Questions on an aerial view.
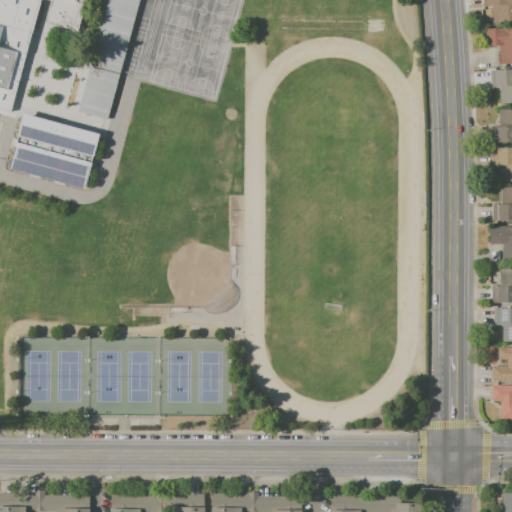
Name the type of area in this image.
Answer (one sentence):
The picture captures a sports ground.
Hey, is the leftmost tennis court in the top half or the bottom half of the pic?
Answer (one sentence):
You can find the leftmost tennis court in the bottom half.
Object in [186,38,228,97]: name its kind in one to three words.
basketball court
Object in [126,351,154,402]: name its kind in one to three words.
tennis court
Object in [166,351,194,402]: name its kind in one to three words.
tennis court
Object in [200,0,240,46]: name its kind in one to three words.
basketball court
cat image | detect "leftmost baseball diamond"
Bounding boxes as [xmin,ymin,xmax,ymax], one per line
[168,243,240,313]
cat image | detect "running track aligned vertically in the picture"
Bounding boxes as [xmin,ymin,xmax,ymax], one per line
[245,36,419,422]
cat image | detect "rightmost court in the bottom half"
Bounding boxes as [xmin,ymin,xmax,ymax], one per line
[197,351,224,402]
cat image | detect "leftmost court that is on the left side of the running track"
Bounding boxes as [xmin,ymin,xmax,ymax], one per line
[26,351,52,402]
